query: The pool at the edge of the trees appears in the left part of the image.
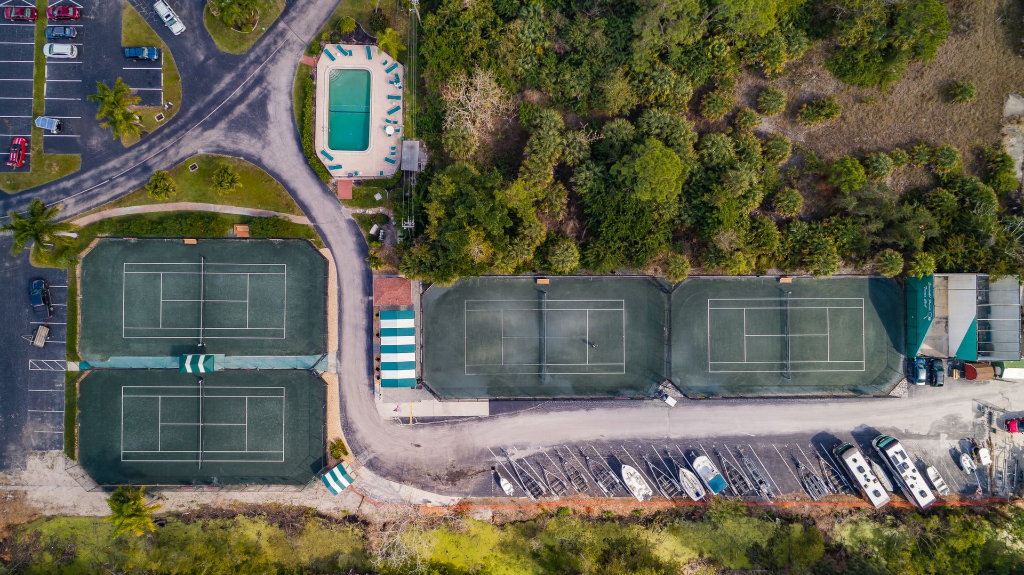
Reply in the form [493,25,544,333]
[315,44,402,178]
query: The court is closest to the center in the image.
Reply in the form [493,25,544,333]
[423,277,666,400]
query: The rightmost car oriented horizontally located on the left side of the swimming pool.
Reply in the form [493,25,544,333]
[125,45,160,62]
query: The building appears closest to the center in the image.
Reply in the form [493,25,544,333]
[374,277,412,306]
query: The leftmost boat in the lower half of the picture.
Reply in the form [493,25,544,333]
[501,478,514,496]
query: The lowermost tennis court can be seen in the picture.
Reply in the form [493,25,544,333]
[80,370,323,486]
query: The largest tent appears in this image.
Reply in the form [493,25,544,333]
[322,460,357,495]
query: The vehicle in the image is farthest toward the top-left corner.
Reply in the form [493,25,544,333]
[5,5,41,22]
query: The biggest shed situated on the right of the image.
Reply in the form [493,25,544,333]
[966,363,1004,383]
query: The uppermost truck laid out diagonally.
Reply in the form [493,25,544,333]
[152,0,186,36]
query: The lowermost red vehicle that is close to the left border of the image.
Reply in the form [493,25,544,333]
[7,135,30,169]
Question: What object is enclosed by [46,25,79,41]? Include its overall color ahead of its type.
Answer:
blue car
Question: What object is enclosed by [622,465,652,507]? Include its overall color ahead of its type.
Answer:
white boat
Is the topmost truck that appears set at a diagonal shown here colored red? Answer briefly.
No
